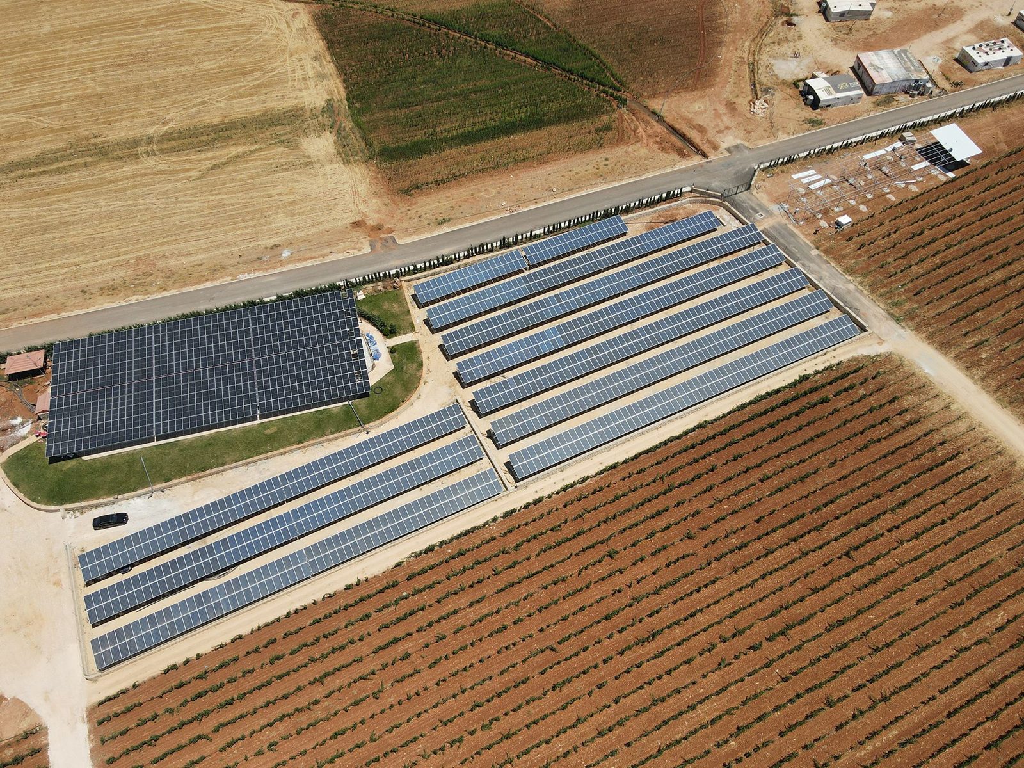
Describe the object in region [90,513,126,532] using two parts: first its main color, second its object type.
black car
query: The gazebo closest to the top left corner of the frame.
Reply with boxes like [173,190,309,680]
[4,350,51,382]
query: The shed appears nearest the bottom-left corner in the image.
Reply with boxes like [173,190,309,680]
[34,393,57,420]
